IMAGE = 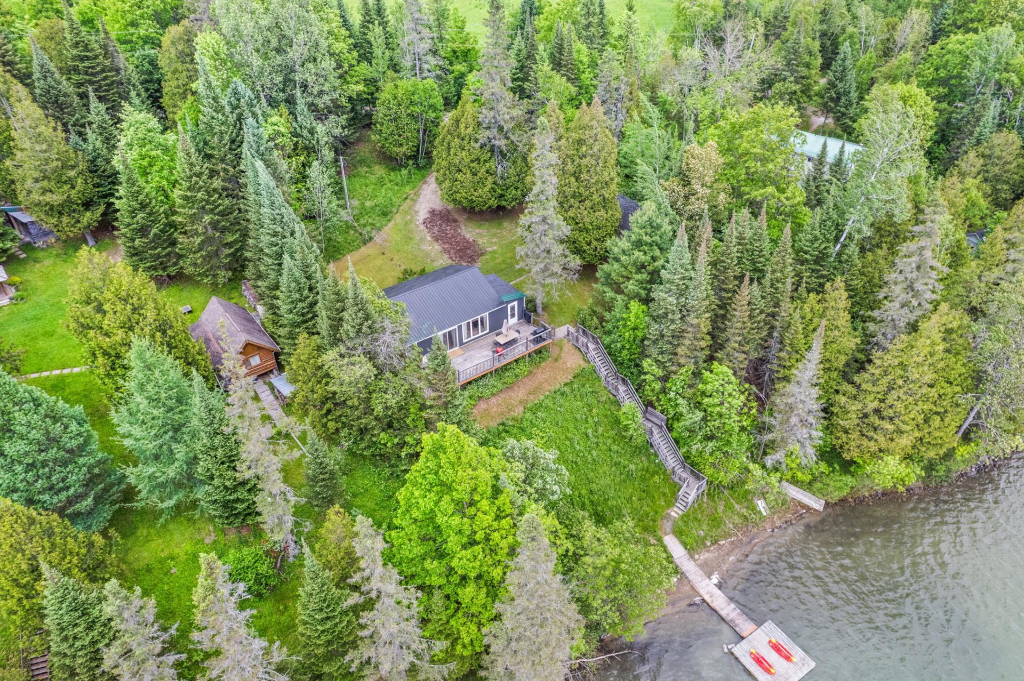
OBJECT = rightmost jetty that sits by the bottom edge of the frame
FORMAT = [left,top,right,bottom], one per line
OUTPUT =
[729,620,816,681]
